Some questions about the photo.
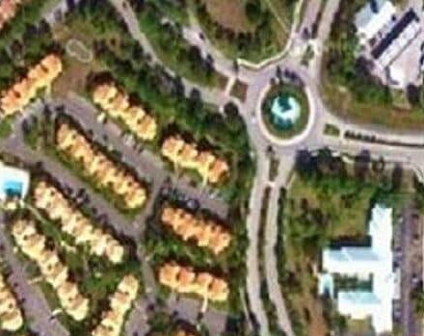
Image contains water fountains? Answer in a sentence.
Yes, there's a water fountain down there.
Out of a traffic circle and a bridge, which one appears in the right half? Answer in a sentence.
Looking in the right half, you will find a traffic circle.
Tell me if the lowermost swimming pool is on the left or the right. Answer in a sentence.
You can find the lowermost swimming pool on the left side of the picture.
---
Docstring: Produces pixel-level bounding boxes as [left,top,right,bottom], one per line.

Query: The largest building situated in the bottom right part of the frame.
[319,205,401,333]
